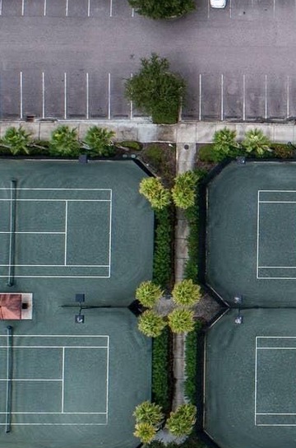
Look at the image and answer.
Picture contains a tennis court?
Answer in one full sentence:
Yes, the picture does show a tennis court.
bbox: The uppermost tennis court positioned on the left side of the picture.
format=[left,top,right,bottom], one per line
[0,159,153,306]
